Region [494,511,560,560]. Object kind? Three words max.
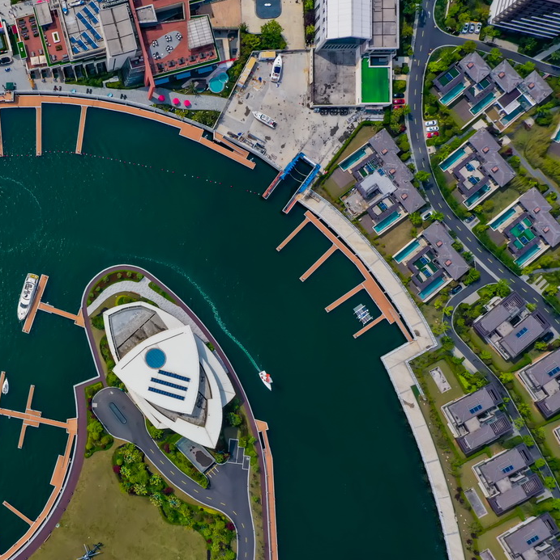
house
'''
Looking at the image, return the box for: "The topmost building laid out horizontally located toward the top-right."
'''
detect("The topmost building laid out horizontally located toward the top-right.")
[487,0,560,37]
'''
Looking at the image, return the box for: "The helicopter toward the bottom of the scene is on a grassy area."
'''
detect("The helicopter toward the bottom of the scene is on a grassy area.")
[78,543,103,560]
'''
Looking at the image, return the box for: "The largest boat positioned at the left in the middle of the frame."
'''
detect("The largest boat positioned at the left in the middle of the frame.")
[18,271,39,320]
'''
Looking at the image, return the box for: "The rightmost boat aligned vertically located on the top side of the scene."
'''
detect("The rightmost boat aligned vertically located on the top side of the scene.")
[271,53,283,82]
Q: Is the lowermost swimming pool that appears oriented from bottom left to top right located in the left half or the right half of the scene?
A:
right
